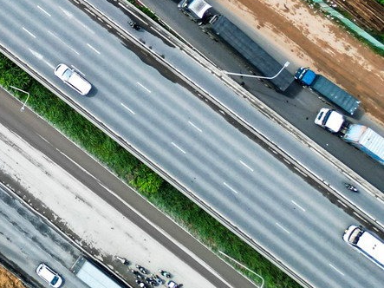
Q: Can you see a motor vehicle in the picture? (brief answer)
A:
Yes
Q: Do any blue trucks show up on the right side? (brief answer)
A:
Yes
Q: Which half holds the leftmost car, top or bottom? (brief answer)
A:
bottom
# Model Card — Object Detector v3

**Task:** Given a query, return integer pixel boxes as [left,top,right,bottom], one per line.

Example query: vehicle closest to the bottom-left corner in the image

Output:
[31,258,62,287]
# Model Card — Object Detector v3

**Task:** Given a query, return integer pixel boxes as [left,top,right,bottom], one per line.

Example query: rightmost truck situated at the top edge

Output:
[166,0,296,92]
